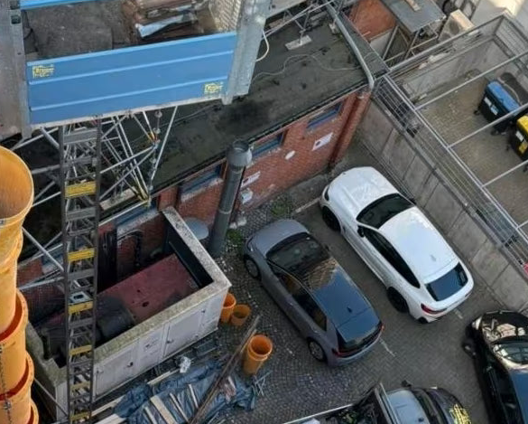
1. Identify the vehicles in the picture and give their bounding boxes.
[276,366,478,424]
[456,313,528,424]
[310,168,471,332]
[245,219,388,378]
